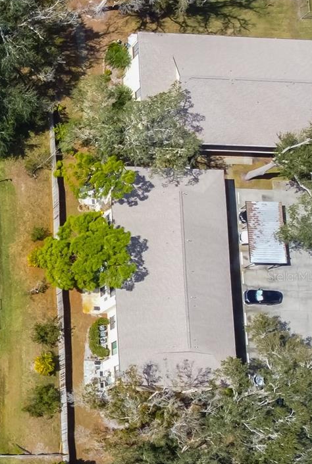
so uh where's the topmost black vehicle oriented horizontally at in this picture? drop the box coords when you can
[244,288,281,306]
